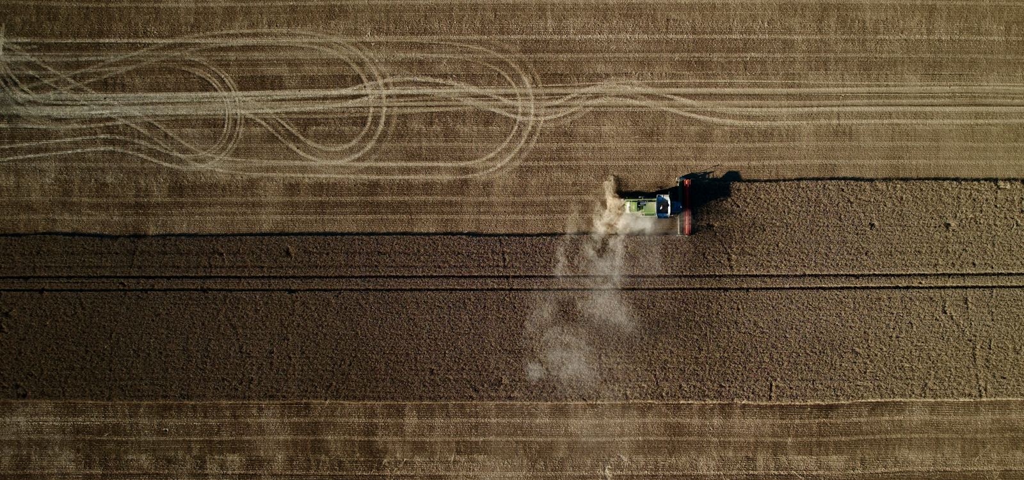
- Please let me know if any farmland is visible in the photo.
Yes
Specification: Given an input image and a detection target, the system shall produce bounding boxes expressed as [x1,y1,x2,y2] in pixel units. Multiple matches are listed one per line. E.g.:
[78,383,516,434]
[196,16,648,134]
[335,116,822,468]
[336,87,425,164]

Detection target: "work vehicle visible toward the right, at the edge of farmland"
[619,174,691,236]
